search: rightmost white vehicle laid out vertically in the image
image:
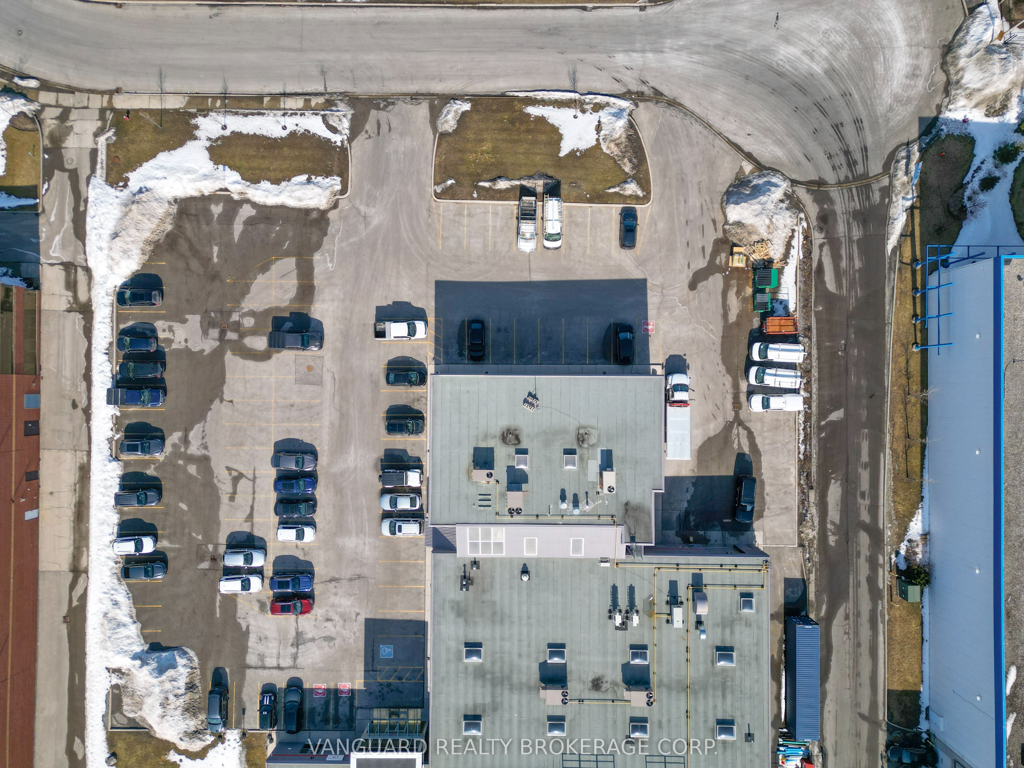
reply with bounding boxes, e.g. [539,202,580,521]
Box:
[662,366,693,460]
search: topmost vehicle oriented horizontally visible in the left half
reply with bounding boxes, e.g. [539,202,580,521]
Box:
[116,287,162,308]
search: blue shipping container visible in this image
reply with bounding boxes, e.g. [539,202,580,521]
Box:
[786,617,820,741]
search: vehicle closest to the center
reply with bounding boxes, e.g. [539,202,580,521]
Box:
[466,320,487,360]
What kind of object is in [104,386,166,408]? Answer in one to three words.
truck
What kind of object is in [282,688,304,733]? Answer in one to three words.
car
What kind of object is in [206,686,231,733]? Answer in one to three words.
car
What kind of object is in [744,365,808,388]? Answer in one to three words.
vehicle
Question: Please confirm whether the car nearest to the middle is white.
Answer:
No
